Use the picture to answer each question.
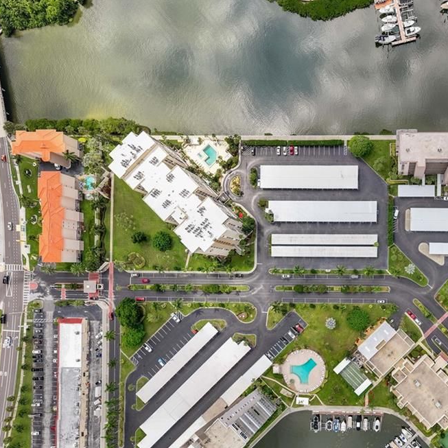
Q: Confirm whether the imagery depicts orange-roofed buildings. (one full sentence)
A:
Yes, the image includes an orange-roofed building.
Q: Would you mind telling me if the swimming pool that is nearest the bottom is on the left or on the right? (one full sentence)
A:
The swimming pool that is nearest the bottom sits on the right side.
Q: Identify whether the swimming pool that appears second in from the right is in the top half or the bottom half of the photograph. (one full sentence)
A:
It is in the top half that the swimming pool that appears second in from the right appears.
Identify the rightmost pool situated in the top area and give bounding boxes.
[185,139,232,174]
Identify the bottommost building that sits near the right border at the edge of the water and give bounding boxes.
[390,354,448,430]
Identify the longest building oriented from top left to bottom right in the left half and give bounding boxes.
[108,131,247,257]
